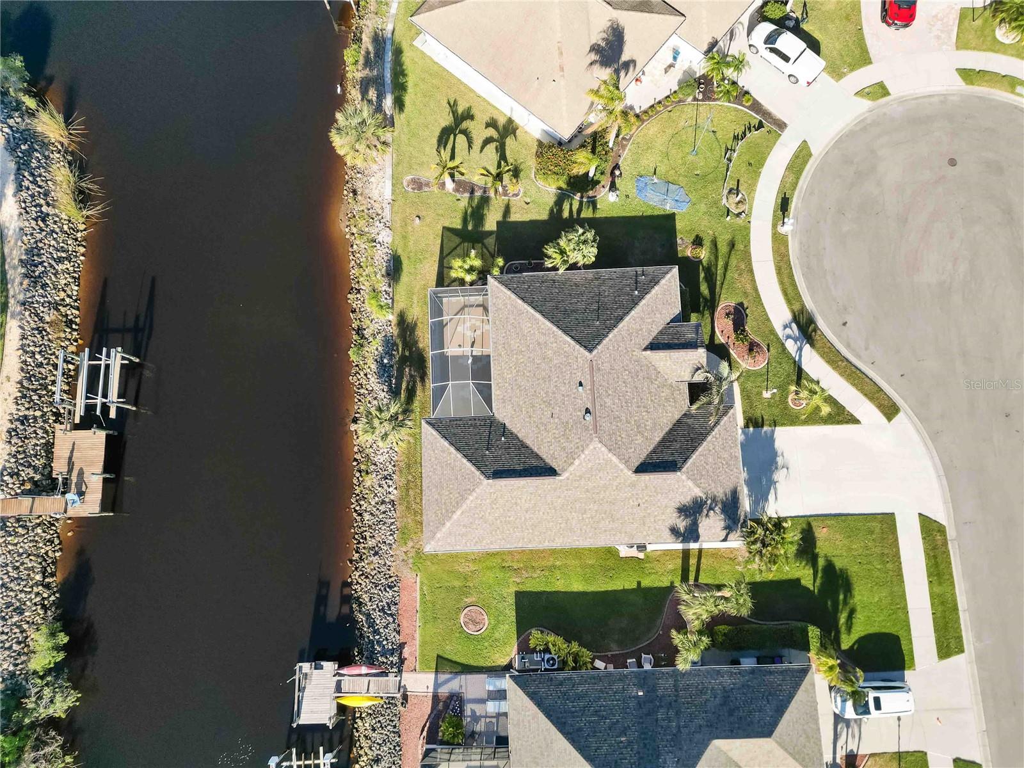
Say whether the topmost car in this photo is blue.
No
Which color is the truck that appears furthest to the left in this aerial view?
white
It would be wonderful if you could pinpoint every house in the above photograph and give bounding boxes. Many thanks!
[420,267,748,554]
[420,661,824,768]
[392,0,761,147]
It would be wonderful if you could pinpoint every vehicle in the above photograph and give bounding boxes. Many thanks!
[884,0,919,28]
[833,681,918,724]
[745,19,832,88]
